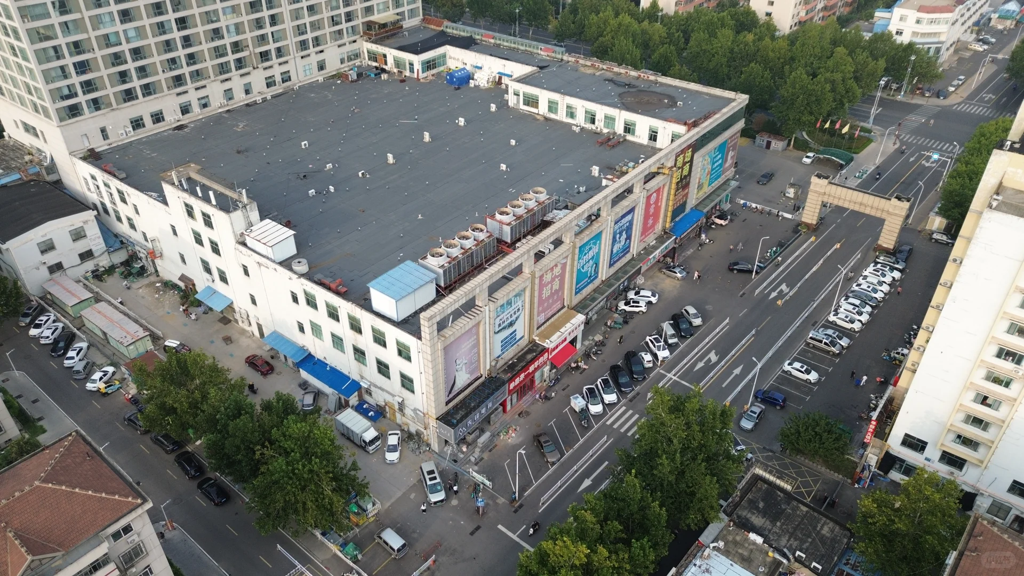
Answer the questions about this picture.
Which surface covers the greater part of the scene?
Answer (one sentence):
What you mostly see from above here is buildings.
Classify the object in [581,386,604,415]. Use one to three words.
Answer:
car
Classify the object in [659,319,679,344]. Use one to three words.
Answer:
vehicle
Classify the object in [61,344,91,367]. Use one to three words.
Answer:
car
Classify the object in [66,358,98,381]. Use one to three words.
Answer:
vehicle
